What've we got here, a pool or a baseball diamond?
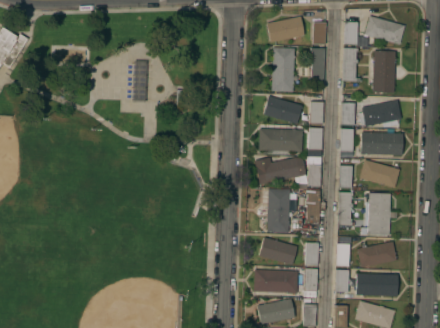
baseball diamond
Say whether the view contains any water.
No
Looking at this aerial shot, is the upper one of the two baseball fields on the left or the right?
left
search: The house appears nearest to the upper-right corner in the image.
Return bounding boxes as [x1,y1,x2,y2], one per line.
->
[366,16,406,46]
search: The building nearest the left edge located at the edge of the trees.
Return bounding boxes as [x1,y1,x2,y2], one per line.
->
[0,28,28,66]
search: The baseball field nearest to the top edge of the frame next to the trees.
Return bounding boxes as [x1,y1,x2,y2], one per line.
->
[0,104,82,250]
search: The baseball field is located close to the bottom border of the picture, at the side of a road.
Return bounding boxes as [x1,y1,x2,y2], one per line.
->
[34,210,199,328]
